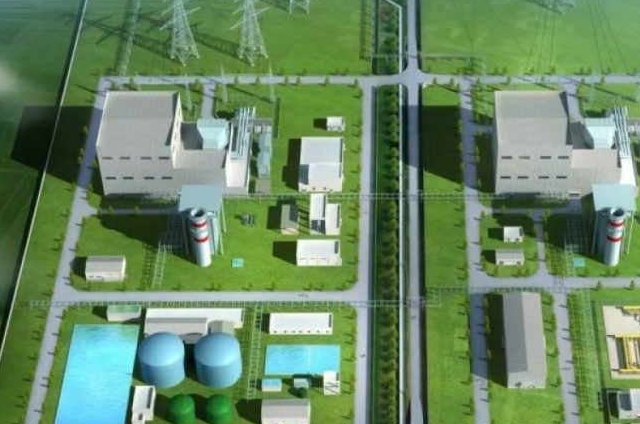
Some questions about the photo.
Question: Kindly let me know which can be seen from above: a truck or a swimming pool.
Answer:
swimming pool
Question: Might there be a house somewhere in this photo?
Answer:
Yes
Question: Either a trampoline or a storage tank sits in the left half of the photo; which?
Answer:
storage tank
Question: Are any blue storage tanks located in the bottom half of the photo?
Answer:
Yes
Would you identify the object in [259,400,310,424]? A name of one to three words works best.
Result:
shed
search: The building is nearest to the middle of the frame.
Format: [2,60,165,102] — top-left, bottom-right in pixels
[308,196,342,236]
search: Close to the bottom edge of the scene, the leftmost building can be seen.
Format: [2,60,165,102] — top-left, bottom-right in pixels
[131,382,157,424]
